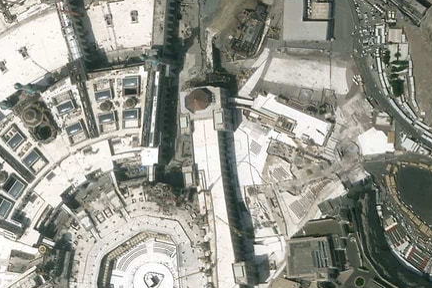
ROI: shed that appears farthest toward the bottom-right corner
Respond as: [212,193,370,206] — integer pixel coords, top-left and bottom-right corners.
[403,245,430,272]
